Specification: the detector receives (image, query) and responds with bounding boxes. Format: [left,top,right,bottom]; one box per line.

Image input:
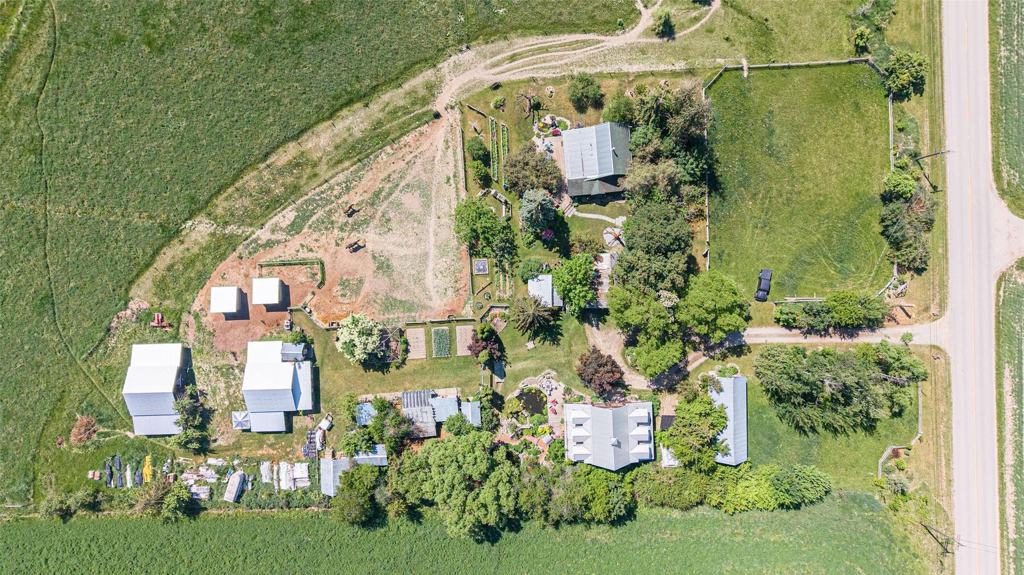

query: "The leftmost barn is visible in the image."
[122,343,186,435]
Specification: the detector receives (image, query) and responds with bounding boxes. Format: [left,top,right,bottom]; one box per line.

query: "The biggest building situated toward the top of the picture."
[561,121,633,198]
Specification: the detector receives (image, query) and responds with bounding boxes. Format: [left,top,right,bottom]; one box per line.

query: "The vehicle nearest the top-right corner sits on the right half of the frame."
[755,270,771,300]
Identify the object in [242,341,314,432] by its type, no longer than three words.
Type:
barn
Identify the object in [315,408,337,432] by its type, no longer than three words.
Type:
truck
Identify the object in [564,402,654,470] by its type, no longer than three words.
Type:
house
